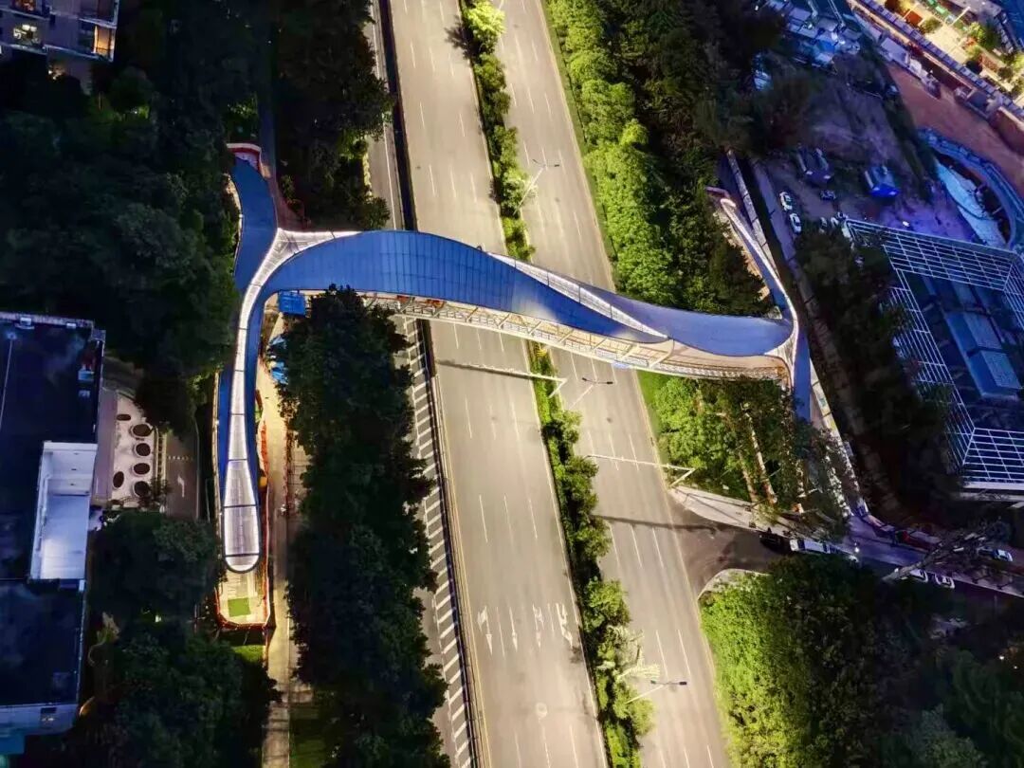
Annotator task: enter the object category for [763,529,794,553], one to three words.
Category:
car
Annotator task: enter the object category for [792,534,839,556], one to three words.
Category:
vehicle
